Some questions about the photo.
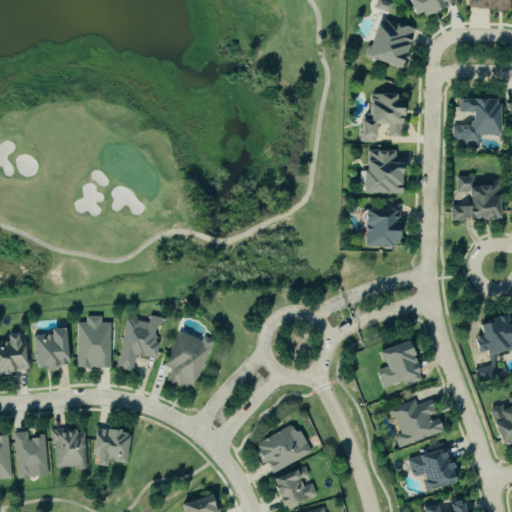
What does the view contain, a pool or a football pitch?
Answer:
pool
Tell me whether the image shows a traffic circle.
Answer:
Yes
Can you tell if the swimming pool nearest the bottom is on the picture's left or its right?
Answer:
right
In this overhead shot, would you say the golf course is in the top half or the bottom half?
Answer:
top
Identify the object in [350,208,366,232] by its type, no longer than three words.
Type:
swimming pool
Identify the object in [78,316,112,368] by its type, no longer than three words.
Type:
house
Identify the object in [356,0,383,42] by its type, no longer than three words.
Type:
swimming pool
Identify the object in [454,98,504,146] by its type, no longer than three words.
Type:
house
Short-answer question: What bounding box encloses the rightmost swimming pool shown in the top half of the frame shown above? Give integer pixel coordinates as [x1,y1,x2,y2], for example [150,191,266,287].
[480,134,502,152]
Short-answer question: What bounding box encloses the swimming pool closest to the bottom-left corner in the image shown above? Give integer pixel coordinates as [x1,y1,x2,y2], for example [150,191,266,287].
[31,318,58,336]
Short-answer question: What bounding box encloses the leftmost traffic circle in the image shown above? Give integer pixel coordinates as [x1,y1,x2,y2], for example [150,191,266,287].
[258,303,327,384]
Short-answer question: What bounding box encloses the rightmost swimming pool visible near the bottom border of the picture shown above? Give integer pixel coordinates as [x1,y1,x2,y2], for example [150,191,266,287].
[404,461,426,497]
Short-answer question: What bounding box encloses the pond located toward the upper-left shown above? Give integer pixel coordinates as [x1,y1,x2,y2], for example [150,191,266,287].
[0,0,248,89]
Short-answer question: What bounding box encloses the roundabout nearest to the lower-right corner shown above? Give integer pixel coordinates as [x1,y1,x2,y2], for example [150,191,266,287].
[470,238,512,294]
